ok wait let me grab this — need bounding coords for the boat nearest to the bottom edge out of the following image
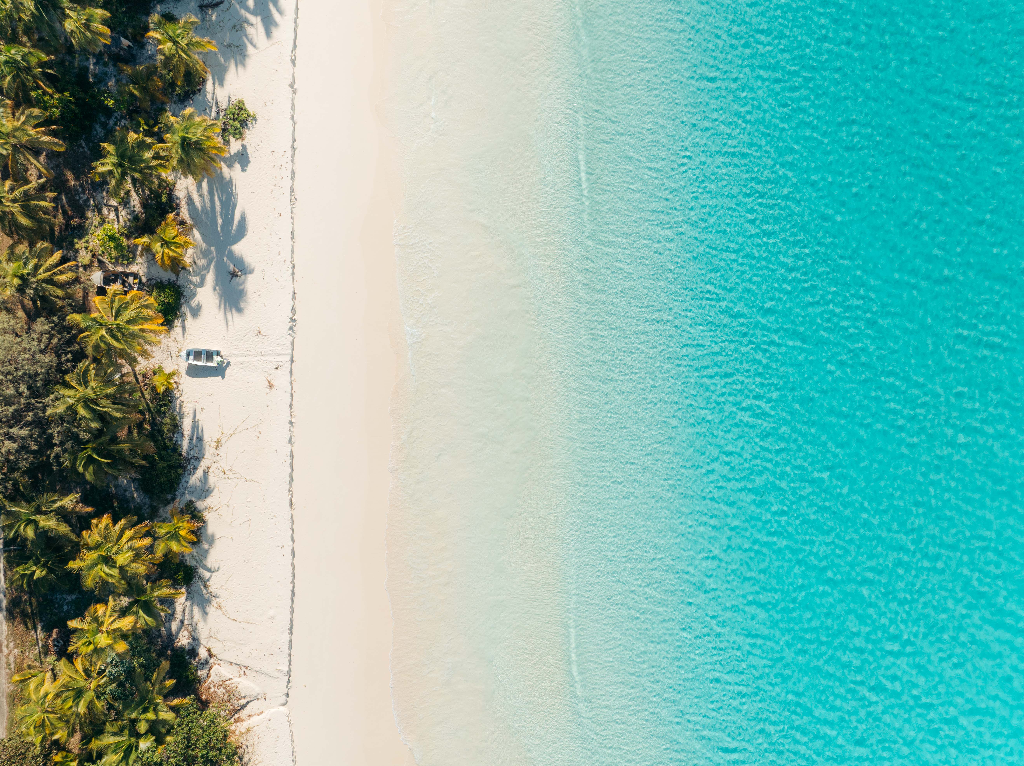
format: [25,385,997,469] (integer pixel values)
[179,348,228,366]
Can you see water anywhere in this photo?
Yes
